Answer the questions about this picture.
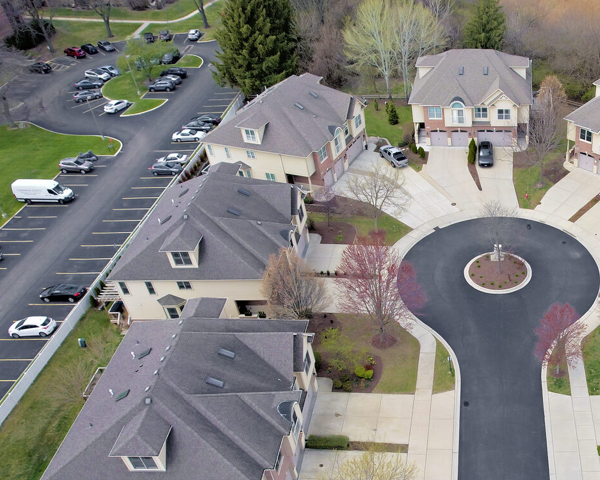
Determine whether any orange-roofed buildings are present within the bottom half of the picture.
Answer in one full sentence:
No, no orange-roofed building is visible within the bottom half of the picture.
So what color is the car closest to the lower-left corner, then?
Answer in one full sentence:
The color of the car closest to the lower-left corner is white.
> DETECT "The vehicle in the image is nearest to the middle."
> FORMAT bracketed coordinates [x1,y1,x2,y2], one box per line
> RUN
[380,145,408,164]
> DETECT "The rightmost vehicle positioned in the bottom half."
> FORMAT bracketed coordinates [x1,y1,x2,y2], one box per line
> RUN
[33,281,87,302]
